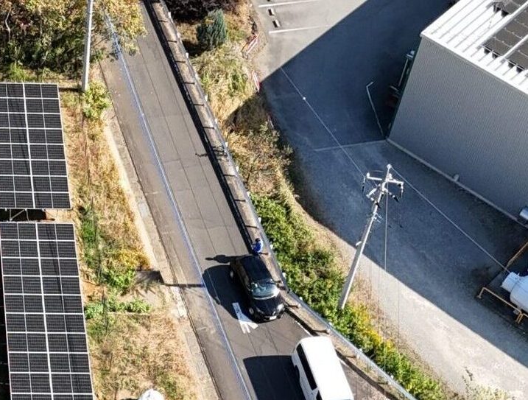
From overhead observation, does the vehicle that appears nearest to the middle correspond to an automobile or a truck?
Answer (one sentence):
I'd say the vehicle that appears nearest to the middle is an automobile.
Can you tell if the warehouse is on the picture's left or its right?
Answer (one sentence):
The warehouse is on the right side of the image.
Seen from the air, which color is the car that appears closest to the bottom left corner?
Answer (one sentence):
The car that appears closest to the bottom left corner looks black in the image.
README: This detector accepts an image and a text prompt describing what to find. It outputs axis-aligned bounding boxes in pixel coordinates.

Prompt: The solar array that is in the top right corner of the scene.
[477,0,528,79]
